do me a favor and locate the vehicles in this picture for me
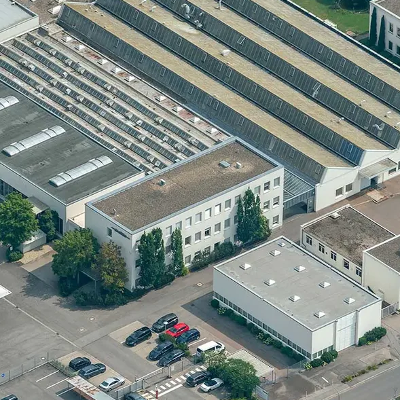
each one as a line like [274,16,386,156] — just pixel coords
[198,378,222,394]
[157,347,187,366]
[125,326,154,345]
[152,311,179,331]
[167,319,192,334]
[184,369,213,387]
[98,377,126,394]
[67,355,93,371]
[176,327,202,342]
[123,392,146,400]
[149,341,175,359]
[77,363,107,380]
[195,337,227,354]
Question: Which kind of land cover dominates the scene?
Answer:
buildings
